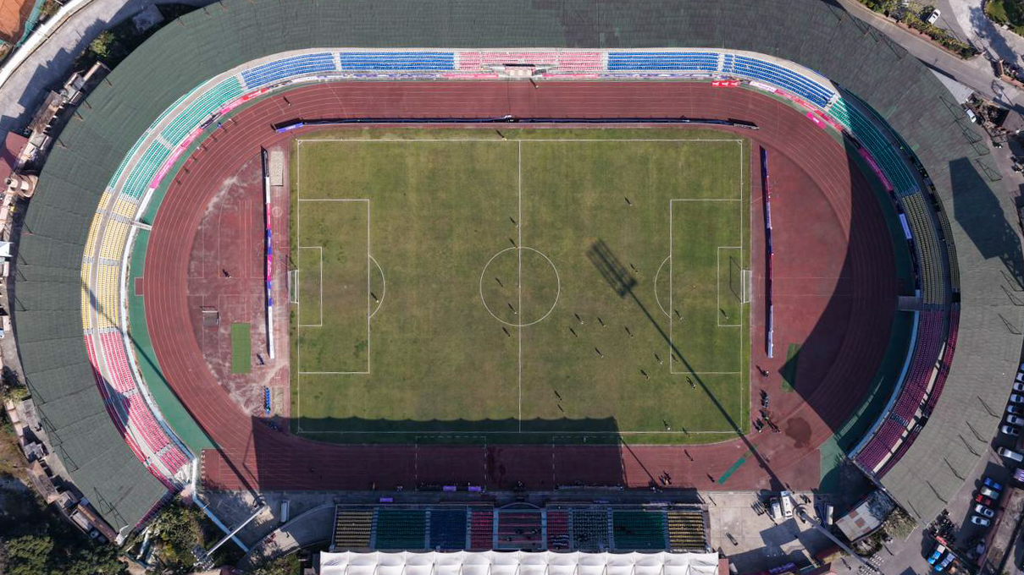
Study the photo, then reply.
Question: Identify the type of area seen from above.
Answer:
sports ground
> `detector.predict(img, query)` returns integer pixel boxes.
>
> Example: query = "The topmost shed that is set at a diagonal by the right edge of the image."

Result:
[932,71,975,103]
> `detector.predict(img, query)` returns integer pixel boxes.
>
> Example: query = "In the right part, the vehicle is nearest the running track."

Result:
[780,491,795,521]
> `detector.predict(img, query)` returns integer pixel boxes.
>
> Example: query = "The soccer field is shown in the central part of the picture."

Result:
[291,128,751,444]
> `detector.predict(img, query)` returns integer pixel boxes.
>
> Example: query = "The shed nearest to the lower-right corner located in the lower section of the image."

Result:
[835,488,890,542]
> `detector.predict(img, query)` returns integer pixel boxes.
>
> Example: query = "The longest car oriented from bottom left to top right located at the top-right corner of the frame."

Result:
[926,7,941,25]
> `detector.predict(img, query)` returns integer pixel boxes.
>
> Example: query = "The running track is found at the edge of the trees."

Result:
[135,80,896,492]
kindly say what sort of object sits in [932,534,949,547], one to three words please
vehicle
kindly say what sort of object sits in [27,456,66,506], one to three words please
house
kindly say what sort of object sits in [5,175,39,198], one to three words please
building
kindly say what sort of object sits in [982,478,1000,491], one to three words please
vehicle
